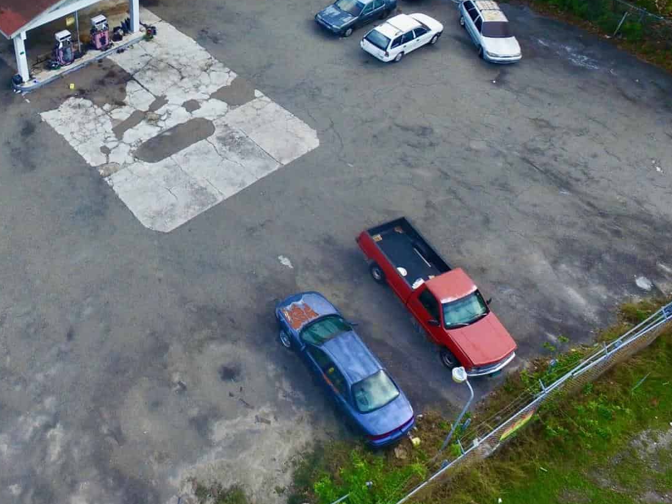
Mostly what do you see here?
paved ground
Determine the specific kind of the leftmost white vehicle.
automobile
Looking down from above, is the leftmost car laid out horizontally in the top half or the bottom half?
top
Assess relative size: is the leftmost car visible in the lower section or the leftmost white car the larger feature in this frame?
the leftmost car visible in the lower section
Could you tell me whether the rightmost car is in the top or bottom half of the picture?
top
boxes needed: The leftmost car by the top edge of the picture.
[313,0,398,38]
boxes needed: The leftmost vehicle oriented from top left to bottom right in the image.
[279,295,424,459]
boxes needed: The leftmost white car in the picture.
[357,13,441,63]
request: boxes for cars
[458,0,524,66]
[357,13,441,63]
[279,295,424,459]
[313,0,398,38]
